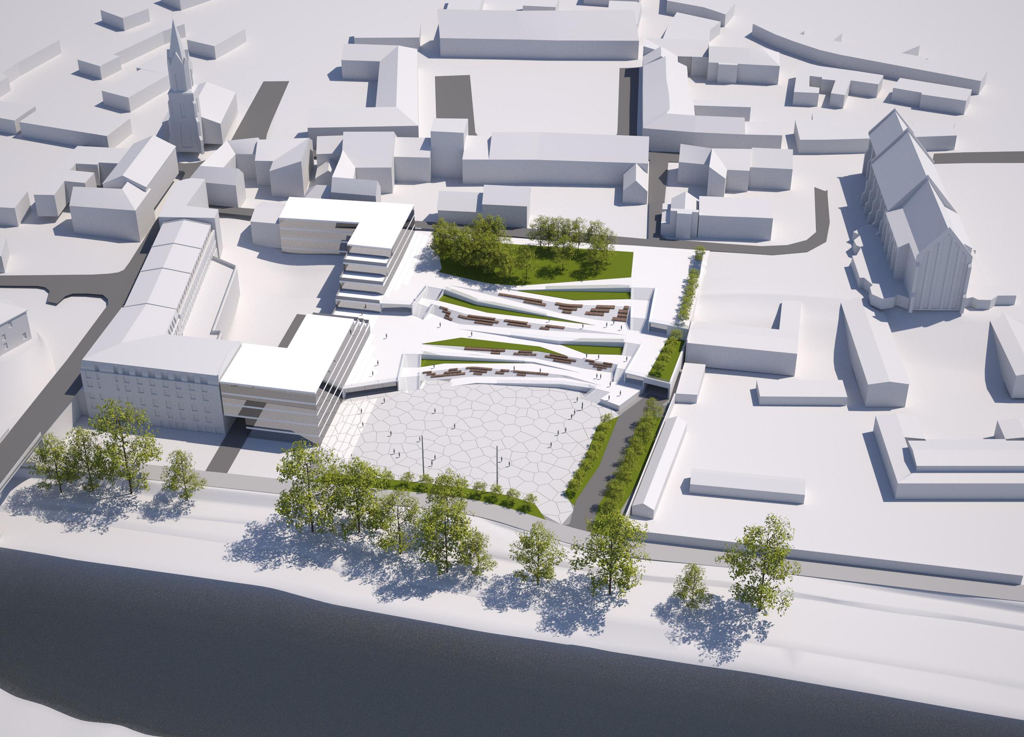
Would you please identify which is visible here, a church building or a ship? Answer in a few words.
church building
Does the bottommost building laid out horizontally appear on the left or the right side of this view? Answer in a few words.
right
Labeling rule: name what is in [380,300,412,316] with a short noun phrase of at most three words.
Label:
building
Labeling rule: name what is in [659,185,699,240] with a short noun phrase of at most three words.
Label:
house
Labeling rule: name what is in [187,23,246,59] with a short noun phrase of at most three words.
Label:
building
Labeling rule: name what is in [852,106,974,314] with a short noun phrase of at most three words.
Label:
church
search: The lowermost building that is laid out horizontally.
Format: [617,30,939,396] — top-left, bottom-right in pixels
[689,477,805,504]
